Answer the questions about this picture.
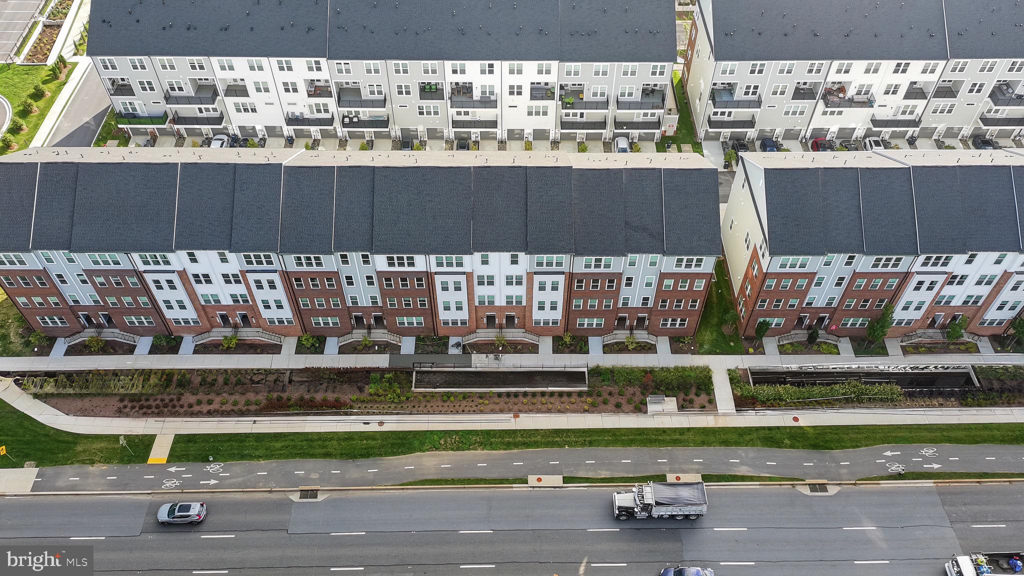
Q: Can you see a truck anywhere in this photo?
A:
Yes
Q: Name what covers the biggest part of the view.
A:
buildings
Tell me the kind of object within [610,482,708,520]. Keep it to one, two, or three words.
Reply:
truck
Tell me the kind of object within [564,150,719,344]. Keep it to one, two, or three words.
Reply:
house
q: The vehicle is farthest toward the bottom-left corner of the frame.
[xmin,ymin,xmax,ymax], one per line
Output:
[159,501,209,526]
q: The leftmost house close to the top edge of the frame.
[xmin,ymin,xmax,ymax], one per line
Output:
[88,0,180,138]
